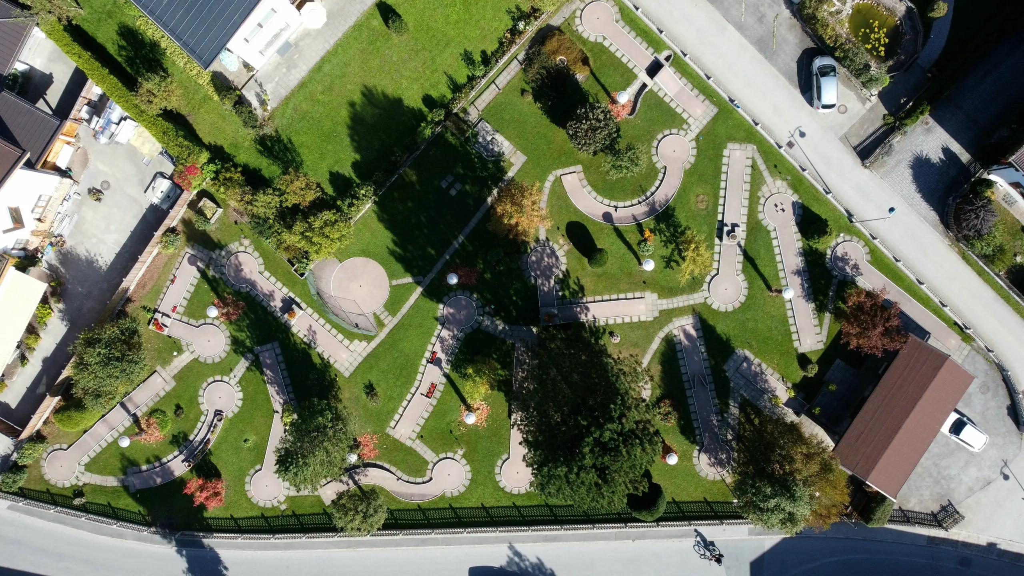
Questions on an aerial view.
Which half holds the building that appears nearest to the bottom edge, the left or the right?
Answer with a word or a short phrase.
right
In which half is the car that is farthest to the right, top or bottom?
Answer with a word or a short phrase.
bottom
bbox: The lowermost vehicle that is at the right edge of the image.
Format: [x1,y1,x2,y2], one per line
[939,412,993,457]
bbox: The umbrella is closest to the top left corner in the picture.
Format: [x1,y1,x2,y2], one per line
[219,50,242,72]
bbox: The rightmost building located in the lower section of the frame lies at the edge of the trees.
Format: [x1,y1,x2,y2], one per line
[834,333,976,502]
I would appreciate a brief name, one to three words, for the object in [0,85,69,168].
shed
